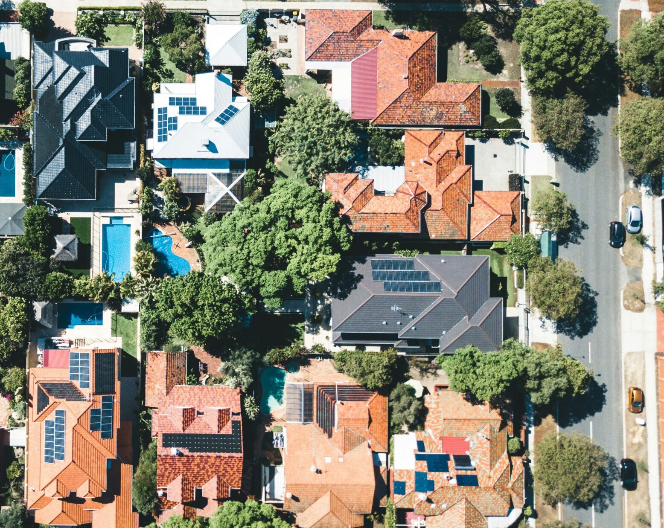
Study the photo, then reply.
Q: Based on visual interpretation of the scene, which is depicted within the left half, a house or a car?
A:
house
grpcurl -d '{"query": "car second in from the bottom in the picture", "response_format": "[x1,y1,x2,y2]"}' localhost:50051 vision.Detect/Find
[627,386,644,413]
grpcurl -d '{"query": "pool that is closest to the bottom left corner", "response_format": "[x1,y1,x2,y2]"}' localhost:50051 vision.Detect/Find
[56,302,105,331]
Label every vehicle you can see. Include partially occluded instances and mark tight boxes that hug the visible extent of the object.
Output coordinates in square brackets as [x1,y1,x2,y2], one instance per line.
[607,221,625,249]
[625,205,643,235]
[627,386,644,413]
[618,459,637,490]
